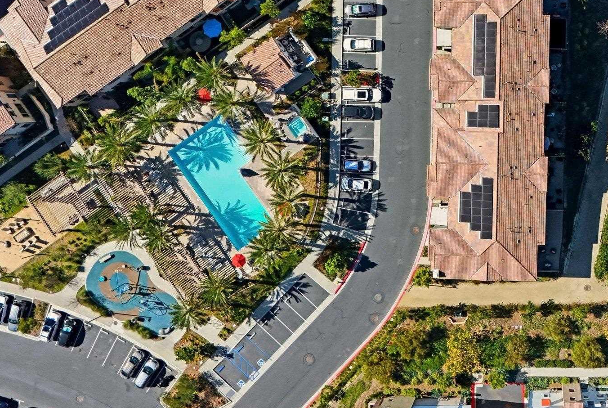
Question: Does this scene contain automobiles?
Yes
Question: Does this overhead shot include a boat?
No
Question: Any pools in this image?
Yes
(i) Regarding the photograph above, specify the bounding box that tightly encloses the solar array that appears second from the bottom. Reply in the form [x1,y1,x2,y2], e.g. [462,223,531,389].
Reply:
[466,104,498,128]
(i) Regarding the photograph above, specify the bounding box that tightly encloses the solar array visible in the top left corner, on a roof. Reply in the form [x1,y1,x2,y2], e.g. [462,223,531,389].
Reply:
[48,0,105,50]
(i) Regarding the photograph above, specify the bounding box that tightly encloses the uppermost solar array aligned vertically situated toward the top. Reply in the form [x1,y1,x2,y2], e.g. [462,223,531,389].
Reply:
[473,15,496,98]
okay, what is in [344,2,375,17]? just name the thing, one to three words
car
